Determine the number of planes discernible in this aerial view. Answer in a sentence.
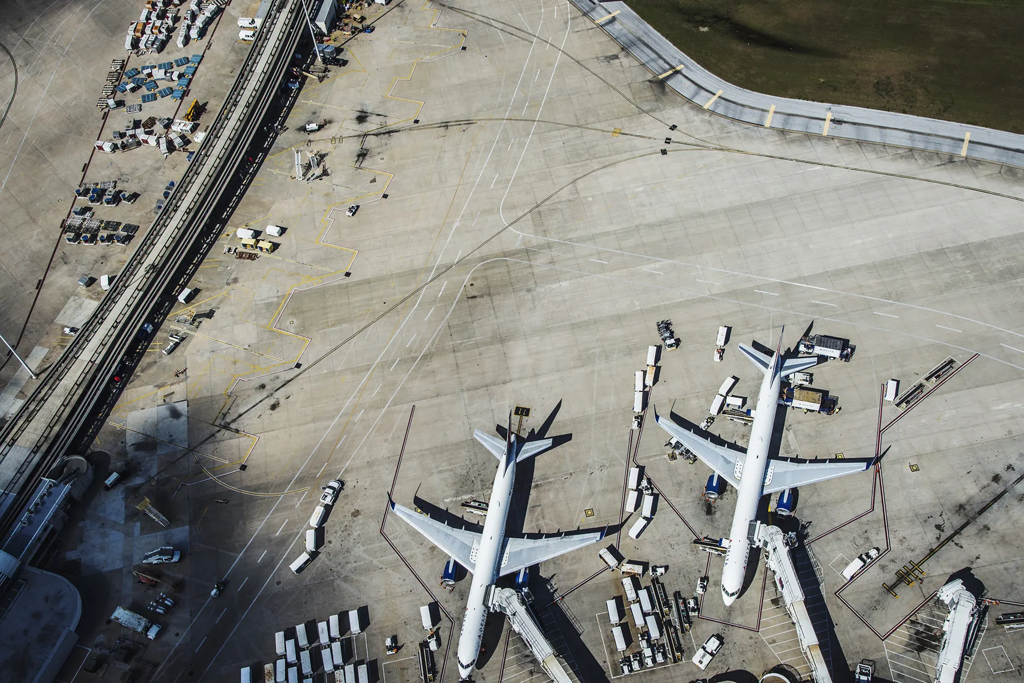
The picture shows 2 planes.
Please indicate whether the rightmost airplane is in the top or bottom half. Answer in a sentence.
Seen from above, the rightmost airplane lies in the bottom half of the view.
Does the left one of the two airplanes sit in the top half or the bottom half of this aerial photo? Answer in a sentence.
Seen from above, the left one of the two airplanes lies in the bottom half of the view.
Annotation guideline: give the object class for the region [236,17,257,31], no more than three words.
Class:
vehicle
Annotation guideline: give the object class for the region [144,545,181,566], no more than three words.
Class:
truck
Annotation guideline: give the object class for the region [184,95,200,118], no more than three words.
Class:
work vehicle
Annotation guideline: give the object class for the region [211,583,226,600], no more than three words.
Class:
work vehicle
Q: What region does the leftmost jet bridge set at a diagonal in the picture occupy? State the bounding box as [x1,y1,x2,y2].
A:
[482,582,575,683]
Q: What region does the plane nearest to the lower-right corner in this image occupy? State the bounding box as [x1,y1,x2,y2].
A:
[652,326,878,604]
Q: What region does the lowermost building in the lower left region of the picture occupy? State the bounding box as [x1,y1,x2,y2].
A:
[0,560,94,683]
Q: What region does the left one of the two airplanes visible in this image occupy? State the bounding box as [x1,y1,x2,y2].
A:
[387,412,609,680]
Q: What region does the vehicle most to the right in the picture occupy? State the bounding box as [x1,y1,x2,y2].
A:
[989,612,1024,632]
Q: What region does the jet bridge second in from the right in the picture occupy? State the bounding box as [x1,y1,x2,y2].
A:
[747,518,833,683]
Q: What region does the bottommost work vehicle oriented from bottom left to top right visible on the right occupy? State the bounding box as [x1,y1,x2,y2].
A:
[690,633,724,670]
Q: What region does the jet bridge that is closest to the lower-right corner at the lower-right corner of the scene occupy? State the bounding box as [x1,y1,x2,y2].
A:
[932,575,980,683]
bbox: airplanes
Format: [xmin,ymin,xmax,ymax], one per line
[652,326,878,604]
[387,412,609,680]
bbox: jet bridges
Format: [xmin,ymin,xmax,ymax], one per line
[932,575,980,683]
[482,582,575,683]
[747,518,833,683]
